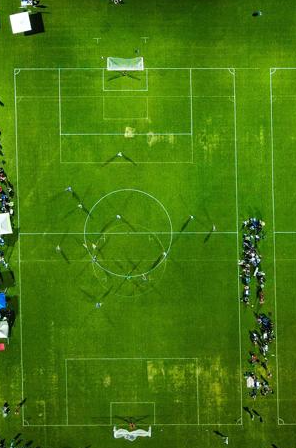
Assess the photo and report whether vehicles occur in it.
No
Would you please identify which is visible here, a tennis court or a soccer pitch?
soccer pitch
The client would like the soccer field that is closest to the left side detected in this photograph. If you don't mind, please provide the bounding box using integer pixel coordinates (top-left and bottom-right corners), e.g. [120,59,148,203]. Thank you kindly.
[15,68,242,426]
